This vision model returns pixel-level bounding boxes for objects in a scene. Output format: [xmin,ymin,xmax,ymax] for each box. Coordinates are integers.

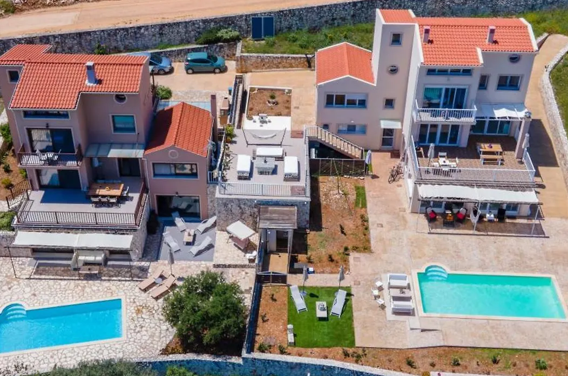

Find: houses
[0,42,223,255]
[311,8,550,214]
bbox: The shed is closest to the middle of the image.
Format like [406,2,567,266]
[257,205,300,248]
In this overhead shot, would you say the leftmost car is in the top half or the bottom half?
top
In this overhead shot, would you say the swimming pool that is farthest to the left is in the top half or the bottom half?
bottom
